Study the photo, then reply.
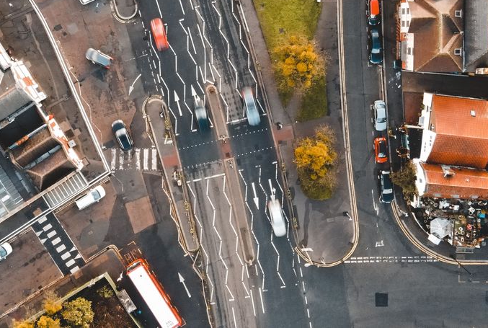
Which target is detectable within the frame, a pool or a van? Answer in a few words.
van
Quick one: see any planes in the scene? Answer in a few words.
No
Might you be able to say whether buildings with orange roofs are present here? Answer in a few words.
Yes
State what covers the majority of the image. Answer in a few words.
paved ground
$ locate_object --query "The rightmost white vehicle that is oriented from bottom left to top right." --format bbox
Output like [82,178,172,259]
[72,184,107,213]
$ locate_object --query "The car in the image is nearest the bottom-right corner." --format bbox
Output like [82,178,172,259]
[378,169,396,204]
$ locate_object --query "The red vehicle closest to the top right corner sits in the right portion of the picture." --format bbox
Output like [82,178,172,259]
[366,0,382,24]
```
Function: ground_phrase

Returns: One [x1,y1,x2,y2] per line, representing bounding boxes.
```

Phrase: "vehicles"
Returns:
[72,184,107,213]
[110,117,133,152]
[372,100,389,130]
[241,88,260,123]
[192,97,211,133]
[151,18,168,48]
[366,0,382,24]
[372,136,388,163]
[378,169,396,204]
[85,46,115,69]
[117,257,180,328]
[267,198,286,233]
[0,239,16,260]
